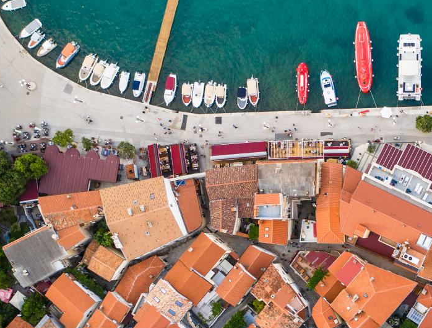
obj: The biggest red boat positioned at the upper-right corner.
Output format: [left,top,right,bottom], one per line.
[352,21,375,94]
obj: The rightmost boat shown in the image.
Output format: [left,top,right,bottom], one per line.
[395,33,425,106]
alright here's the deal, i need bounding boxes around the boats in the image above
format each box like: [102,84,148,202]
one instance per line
[181,80,193,107]
[395,33,425,106]
[56,41,82,69]
[102,62,122,88]
[92,59,110,85]
[37,37,60,57]
[81,52,100,81]
[19,17,44,38]
[295,64,311,106]
[322,70,339,108]
[1,0,28,13]
[215,83,226,108]
[27,29,46,49]
[204,79,217,108]
[132,70,146,97]
[163,71,178,106]
[118,70,130,94]
[352,21,375,94]
[238,85,249,109]
[193,79,204,108]
[247,76,261,107]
